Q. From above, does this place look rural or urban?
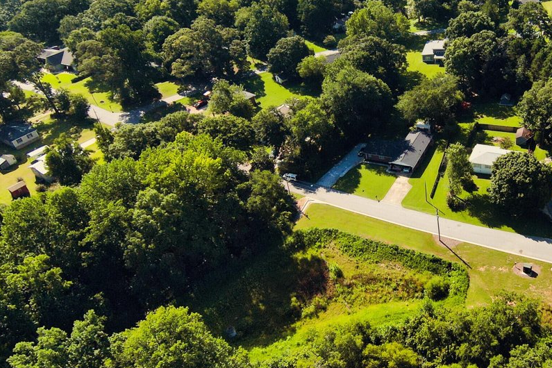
rural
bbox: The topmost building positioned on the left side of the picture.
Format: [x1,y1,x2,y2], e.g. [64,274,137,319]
[42,51,82,72]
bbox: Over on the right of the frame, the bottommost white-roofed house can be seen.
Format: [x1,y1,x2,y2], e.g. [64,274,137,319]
[468,145,516,177]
